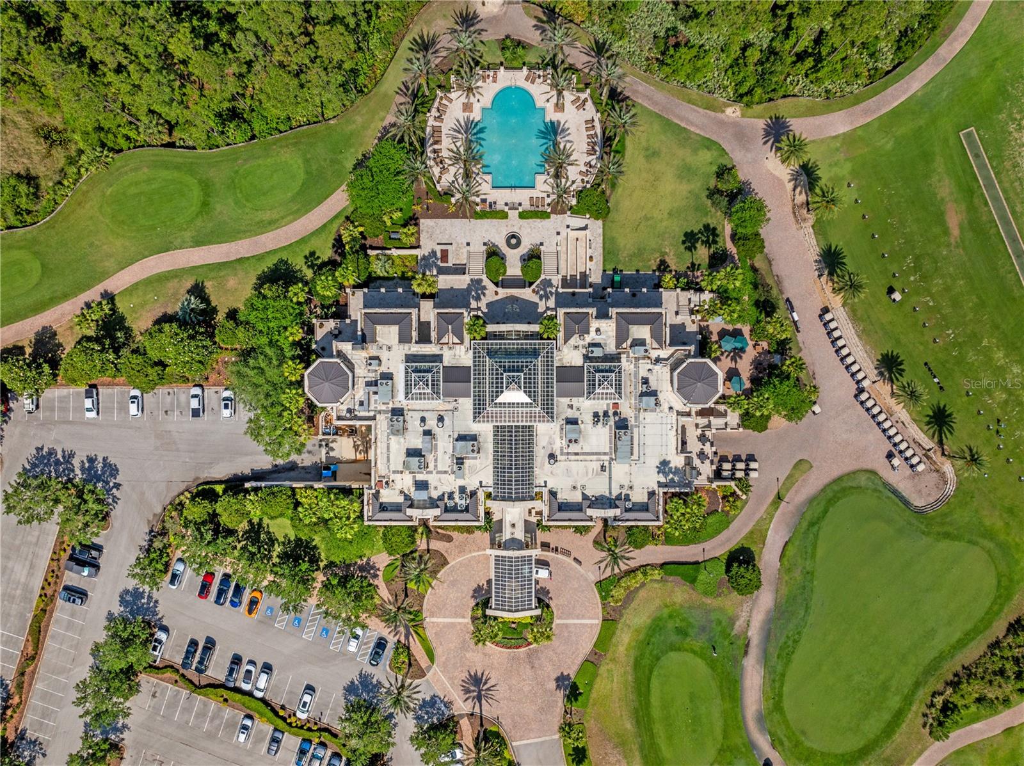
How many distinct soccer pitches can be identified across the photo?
none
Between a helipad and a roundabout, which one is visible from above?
roundabout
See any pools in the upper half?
Yes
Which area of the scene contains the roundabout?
bottom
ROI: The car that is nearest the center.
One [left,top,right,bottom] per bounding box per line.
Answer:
[538,565,555,577]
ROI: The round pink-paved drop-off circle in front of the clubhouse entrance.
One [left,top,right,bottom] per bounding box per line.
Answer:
[423,550,603,747]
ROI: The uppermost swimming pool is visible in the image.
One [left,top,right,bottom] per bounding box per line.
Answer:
[424,66,603,211]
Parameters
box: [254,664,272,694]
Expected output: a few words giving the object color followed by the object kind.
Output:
white car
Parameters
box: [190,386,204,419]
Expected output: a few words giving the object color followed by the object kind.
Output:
white vehicle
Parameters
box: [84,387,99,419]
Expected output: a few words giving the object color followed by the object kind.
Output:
white vehicle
